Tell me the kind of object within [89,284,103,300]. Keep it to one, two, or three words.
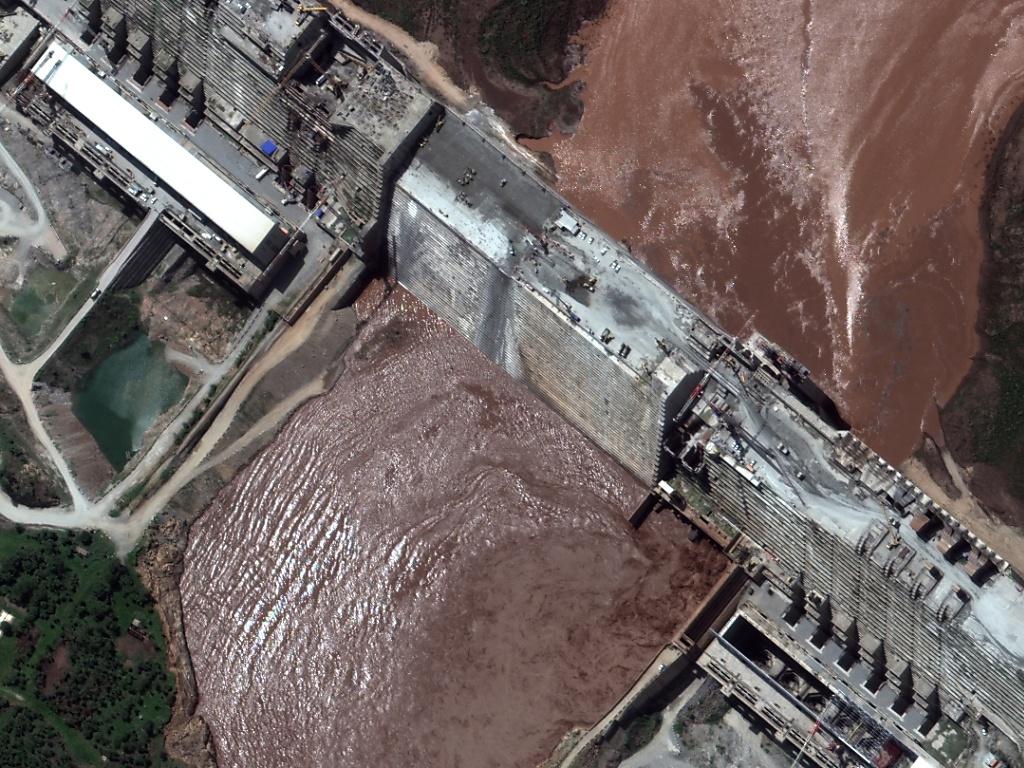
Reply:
vehicle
